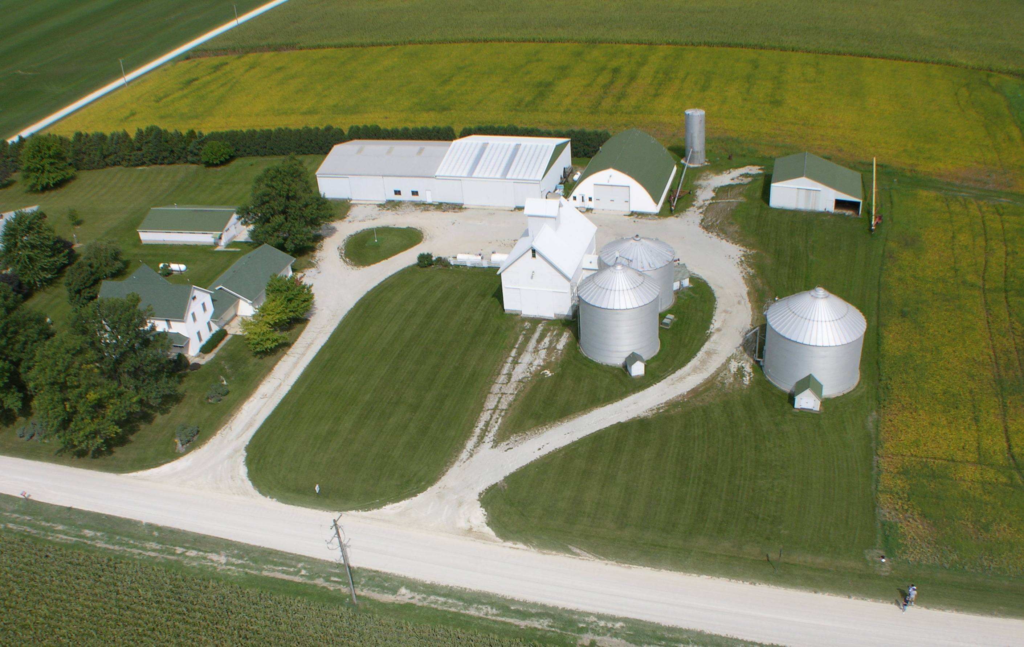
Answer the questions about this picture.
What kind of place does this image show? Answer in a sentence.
The area seen from above is an industrial area.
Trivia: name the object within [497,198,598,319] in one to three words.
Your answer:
barn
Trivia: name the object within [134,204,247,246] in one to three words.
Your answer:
shed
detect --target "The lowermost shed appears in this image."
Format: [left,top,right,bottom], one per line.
[793,377,823,412]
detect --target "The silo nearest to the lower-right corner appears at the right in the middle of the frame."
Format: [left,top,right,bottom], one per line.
[759,290,867,400]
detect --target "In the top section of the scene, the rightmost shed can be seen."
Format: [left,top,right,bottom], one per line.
[768,150,869,215]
